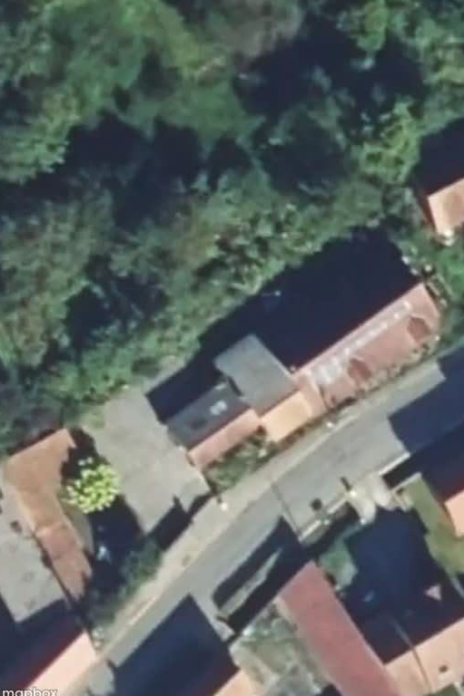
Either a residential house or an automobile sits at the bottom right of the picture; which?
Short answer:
residential house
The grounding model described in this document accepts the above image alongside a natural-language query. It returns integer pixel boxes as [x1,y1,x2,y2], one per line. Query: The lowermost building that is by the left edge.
[0,600,99,696]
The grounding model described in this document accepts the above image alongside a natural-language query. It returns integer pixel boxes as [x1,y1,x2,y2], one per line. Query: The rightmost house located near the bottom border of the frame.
[365,579,464,696]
